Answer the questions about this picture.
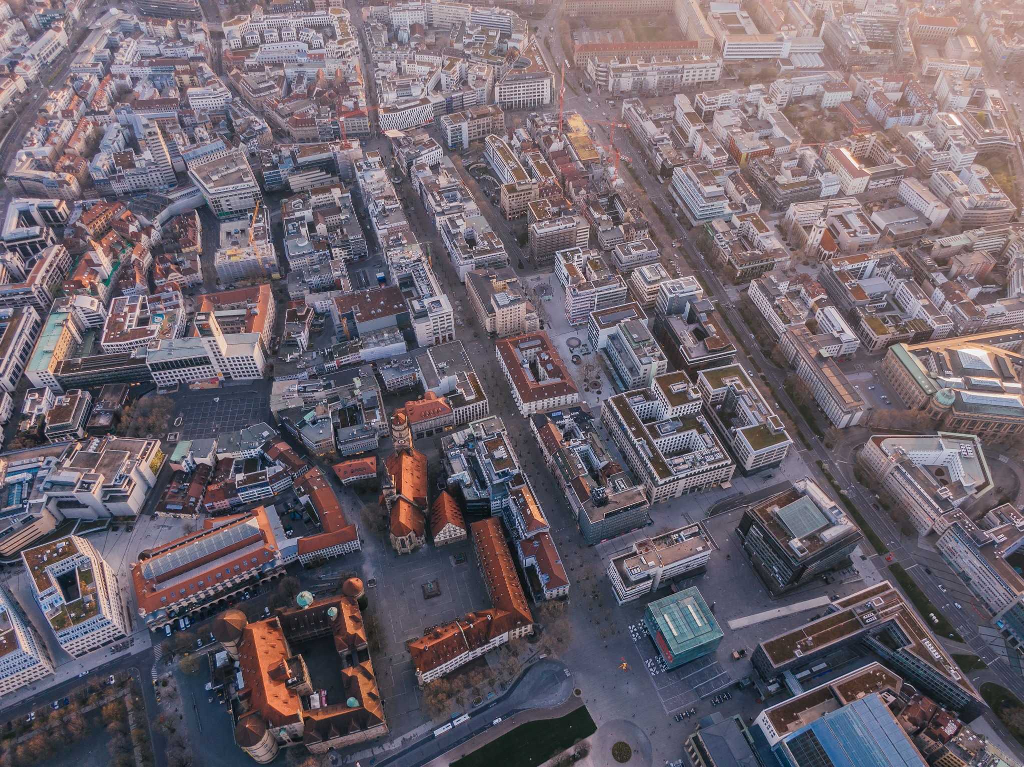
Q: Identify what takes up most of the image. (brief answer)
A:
buildings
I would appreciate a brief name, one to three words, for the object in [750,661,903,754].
building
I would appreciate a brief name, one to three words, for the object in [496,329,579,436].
building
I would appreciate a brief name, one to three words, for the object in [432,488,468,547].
house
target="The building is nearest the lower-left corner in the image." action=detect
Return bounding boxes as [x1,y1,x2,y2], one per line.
[0,589,56,695]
